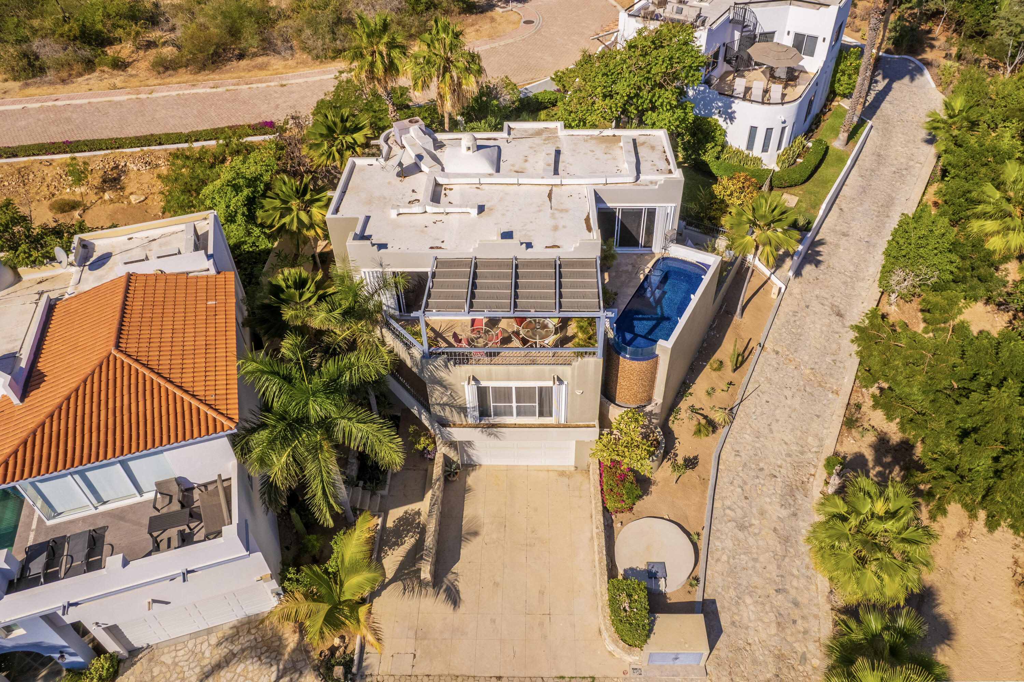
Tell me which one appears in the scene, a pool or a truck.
pool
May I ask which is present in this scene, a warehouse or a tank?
tank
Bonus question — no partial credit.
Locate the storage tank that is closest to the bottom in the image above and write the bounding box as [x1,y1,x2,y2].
[615,511,698,589]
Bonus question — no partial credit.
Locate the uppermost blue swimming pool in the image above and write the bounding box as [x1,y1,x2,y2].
[602,254,707,413]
